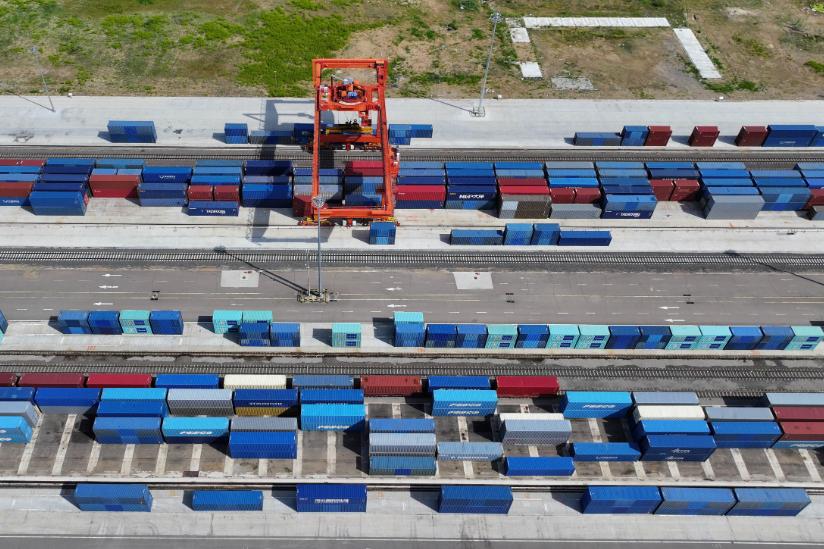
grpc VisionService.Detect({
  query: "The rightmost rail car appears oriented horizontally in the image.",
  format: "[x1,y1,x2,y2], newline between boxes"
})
[492,384,563,397]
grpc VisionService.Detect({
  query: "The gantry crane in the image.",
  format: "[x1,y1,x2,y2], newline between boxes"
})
[298,57,402,228]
